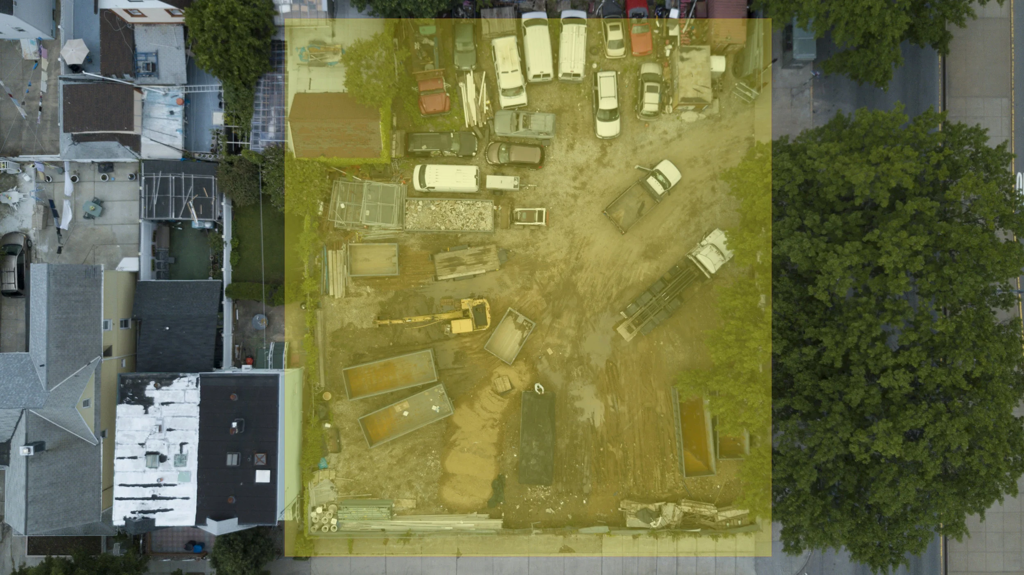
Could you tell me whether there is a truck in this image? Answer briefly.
Yes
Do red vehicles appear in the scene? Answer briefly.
Yes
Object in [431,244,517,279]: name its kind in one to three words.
trailer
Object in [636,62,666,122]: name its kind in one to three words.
car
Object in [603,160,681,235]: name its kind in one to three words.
truck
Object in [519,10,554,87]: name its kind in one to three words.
van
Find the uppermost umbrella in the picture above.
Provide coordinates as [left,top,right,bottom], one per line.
[62,39,97,67]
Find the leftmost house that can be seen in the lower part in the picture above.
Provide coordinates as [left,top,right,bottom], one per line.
[0,263,138,536]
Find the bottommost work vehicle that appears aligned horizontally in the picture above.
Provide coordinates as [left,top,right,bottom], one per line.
[372,298,491,335]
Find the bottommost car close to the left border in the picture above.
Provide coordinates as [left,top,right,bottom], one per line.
[0,233,35,297]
